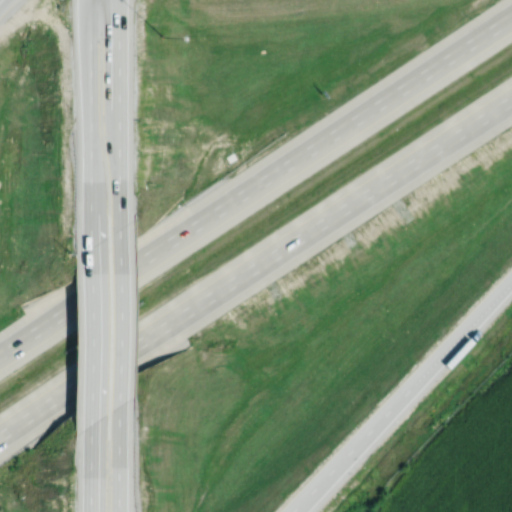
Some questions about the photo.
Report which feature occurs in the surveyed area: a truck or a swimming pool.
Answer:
truck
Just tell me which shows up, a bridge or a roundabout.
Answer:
bridge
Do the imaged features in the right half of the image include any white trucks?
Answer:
Yes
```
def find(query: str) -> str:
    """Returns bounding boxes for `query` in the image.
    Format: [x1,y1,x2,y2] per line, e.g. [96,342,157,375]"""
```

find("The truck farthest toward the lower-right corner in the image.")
[446,331,478,369]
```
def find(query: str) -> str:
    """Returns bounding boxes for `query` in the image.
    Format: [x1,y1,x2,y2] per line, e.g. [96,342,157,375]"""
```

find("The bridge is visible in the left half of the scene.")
[68,222,140,433]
